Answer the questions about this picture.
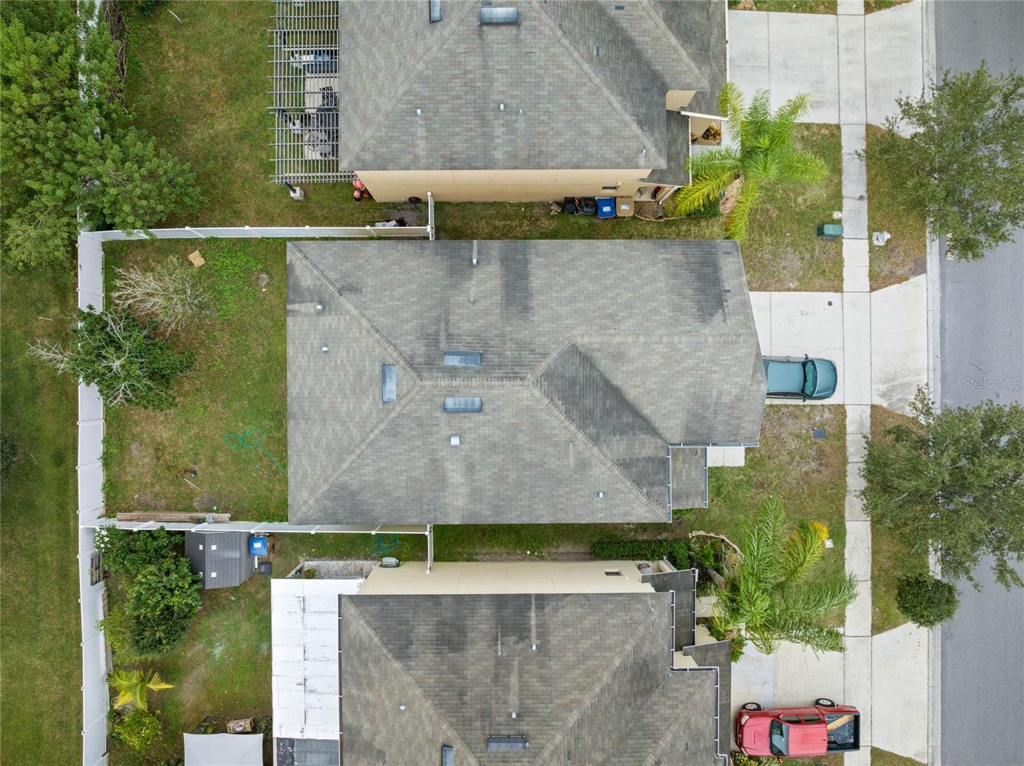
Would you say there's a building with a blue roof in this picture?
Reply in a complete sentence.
No, I find no building with a blue roof anywhere in the image.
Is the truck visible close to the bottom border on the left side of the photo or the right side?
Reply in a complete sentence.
You can find the truck visible close to the bottom border on the right side of the picture.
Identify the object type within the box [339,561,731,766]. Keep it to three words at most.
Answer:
house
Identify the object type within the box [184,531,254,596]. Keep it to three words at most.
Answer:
shed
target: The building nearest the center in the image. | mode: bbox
[286,238,767,526]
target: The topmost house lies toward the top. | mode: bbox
[337,0,731,206]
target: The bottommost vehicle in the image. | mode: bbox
[732,698,860,762]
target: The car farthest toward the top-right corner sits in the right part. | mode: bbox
[762,351,836,405]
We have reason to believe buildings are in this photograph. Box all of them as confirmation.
[286,238,767,526]
[339,561,731,766]
[184,531,254,596]
[337,0,731,206]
